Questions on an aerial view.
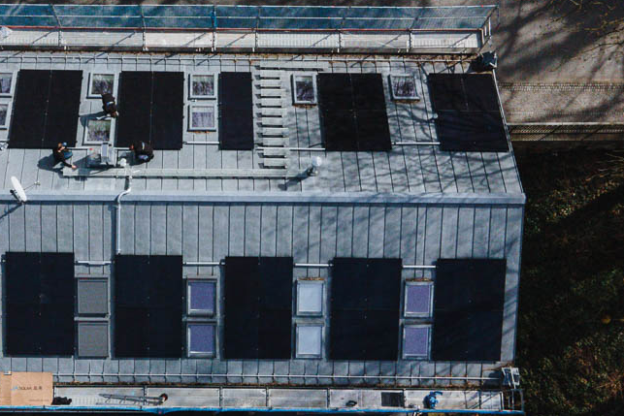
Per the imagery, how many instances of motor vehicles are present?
0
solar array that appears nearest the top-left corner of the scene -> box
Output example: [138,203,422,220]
[9,70,85,149]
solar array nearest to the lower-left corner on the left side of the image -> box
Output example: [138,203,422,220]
[6,252,75,356]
